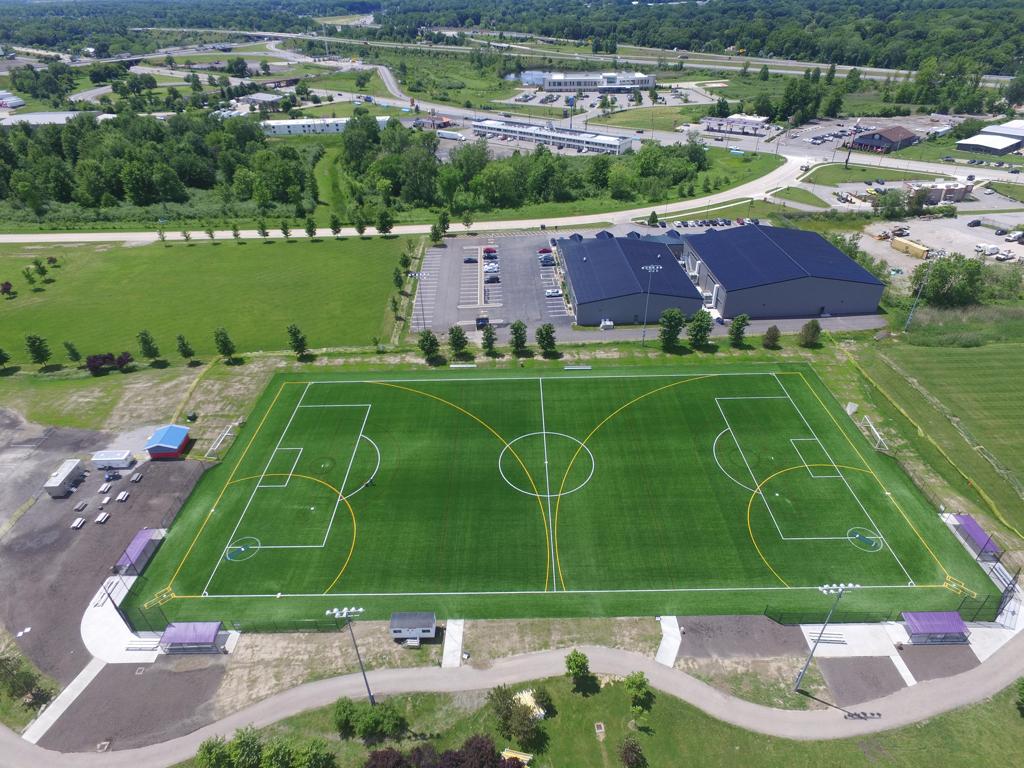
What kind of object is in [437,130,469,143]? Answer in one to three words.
vehicle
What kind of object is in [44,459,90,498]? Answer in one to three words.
trailer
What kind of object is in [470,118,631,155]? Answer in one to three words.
building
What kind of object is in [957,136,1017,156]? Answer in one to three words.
shed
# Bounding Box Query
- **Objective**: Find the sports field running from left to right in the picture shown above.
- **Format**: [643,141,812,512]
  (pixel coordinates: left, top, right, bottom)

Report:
[167,372,948,596]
